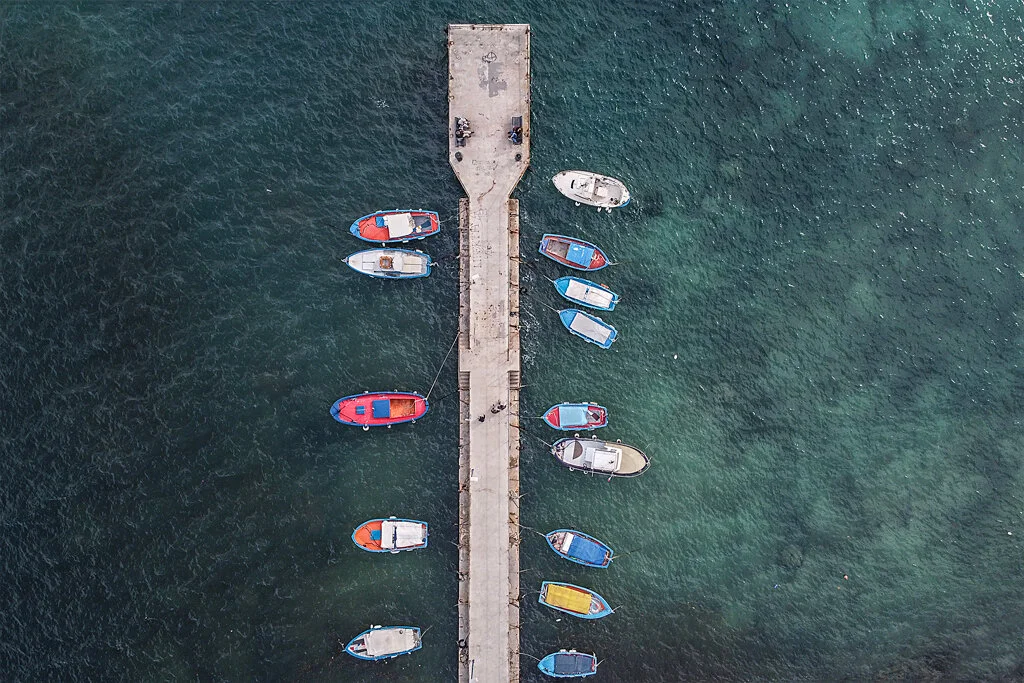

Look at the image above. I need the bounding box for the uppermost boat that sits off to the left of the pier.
[349,208,439,246]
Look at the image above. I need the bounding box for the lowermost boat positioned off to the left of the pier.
[345,624,423,662]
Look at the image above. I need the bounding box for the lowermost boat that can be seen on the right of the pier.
[538,649,597,677]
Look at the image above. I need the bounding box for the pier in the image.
[448,24,530,683]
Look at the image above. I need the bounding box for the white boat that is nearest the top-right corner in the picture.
[552,170,630,213]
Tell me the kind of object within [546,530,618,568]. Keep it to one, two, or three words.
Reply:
boat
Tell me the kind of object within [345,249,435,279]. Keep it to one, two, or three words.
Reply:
boat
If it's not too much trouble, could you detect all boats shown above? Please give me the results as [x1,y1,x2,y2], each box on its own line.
[349,208,439,246]
[543,401,608,431]
[329,389,429,431]
[559,308,617,349]
[345,249,435,279]
[552,170,630,213]
[538,580,613,619]
[554,276,619,311]
[539,234,610,271]
[351,516,428,554]
[546,530,618,568]
[538,649,597,677]
[552,433,650,482]
[345,624,423,662]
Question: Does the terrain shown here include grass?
No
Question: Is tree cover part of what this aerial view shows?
No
